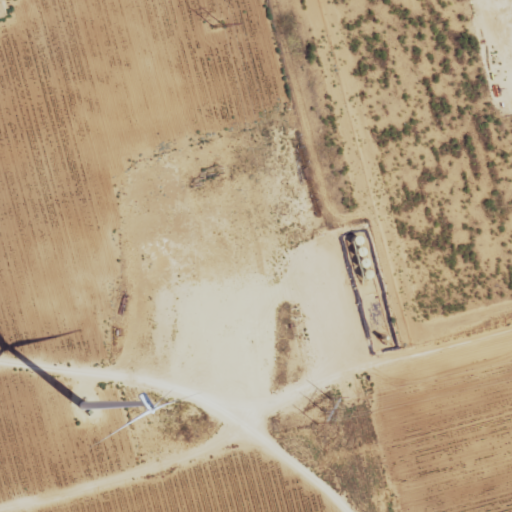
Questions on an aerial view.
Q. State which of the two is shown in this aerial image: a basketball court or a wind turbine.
wind turbine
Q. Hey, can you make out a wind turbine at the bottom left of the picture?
Yes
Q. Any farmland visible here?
Yes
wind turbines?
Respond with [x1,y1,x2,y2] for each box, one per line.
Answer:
[78,388,198,442]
